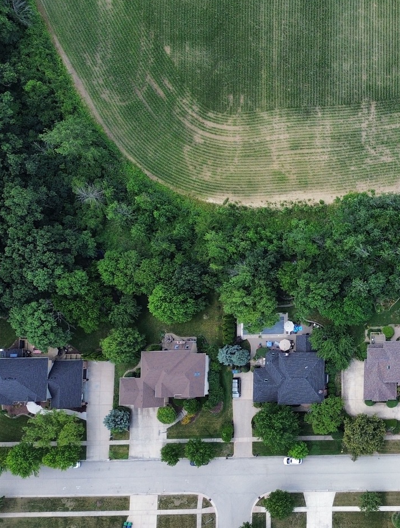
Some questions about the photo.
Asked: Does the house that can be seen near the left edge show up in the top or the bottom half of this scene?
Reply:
bottom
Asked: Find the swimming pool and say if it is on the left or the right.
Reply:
right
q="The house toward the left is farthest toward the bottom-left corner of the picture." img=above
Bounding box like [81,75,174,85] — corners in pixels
[0,347,93,408]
